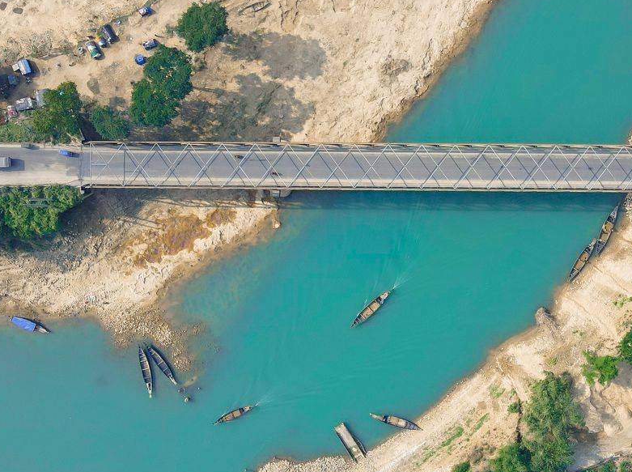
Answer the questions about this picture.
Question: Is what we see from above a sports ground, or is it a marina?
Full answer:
It's a marina.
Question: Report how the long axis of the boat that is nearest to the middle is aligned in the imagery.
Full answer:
The boat that is nearest to the middle is oriented at an angle.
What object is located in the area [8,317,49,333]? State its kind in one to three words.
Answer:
boat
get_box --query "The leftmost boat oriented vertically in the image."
[138,345,152,398]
